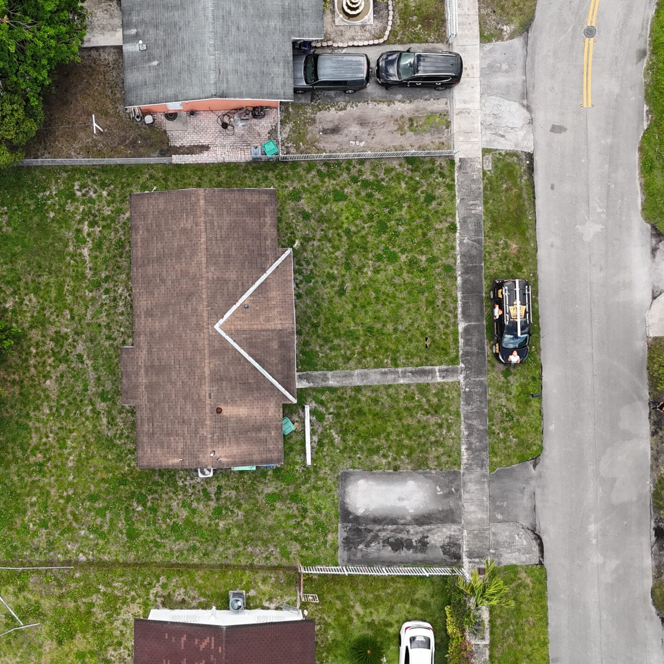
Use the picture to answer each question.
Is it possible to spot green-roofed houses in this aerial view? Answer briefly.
No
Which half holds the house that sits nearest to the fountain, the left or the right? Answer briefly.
left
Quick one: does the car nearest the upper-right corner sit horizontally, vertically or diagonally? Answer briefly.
horizontally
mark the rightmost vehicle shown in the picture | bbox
[493,280,539,363]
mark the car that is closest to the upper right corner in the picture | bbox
[375,46,462,91]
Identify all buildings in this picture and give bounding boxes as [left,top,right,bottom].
[120,187,297,469]
[122,0,324,114]
[133,611,315,664]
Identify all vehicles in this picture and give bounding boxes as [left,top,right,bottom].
[402,625,436,664]
[493,280,539,363]
[293,49,370,91]
[375,46,462,91]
